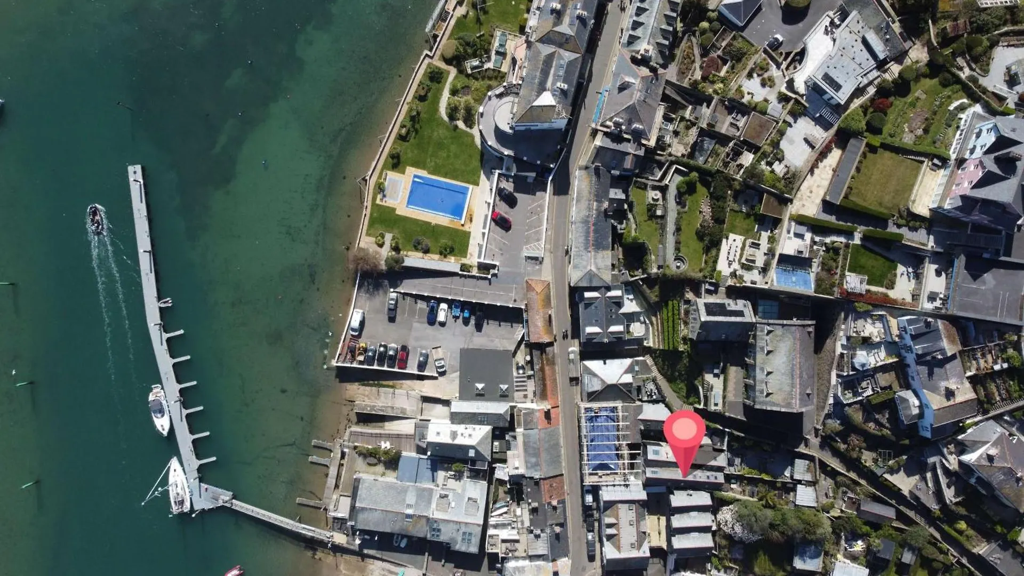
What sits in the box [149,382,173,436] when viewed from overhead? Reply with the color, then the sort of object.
white boat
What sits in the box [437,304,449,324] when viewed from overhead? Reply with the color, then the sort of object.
white vehicle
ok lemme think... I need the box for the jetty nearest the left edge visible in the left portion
[128,165,235,511]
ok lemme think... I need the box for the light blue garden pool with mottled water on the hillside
[772,267,814,292]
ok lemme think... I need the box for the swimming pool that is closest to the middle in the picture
[405,173,473,224]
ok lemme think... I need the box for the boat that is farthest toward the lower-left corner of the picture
[144,457,192,514]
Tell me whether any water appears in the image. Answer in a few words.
Yes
